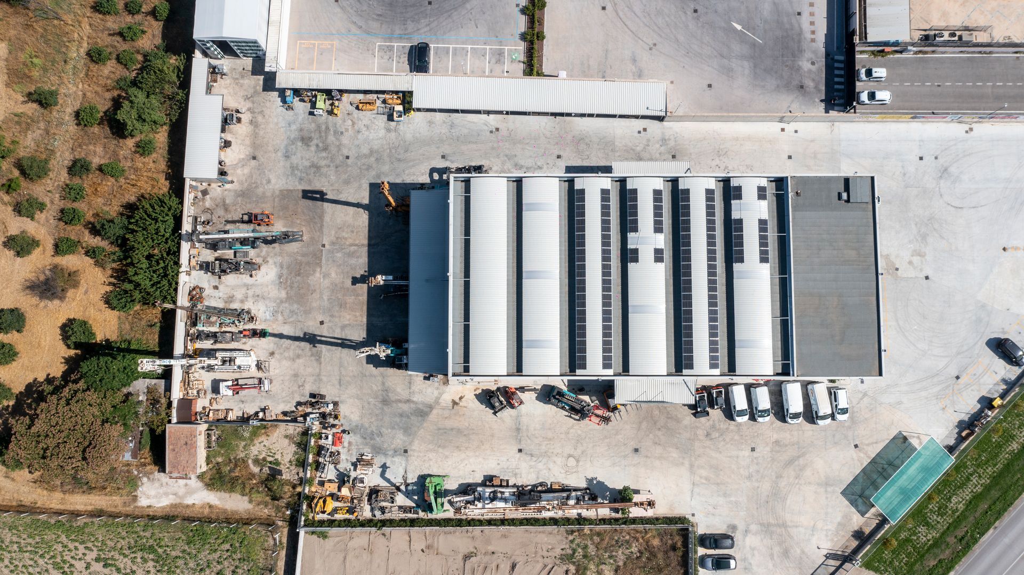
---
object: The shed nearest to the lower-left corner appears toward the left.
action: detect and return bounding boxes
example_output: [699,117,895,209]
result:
[122,424,147,461]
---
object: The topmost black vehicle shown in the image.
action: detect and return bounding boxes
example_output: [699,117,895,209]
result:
[413,42,430,72]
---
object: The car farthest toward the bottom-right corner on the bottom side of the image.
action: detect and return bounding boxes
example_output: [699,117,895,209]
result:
[999,340,1024,372]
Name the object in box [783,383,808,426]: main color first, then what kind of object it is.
white vehicle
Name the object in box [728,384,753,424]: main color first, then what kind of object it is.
white vehicle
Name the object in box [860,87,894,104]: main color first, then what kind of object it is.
white car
